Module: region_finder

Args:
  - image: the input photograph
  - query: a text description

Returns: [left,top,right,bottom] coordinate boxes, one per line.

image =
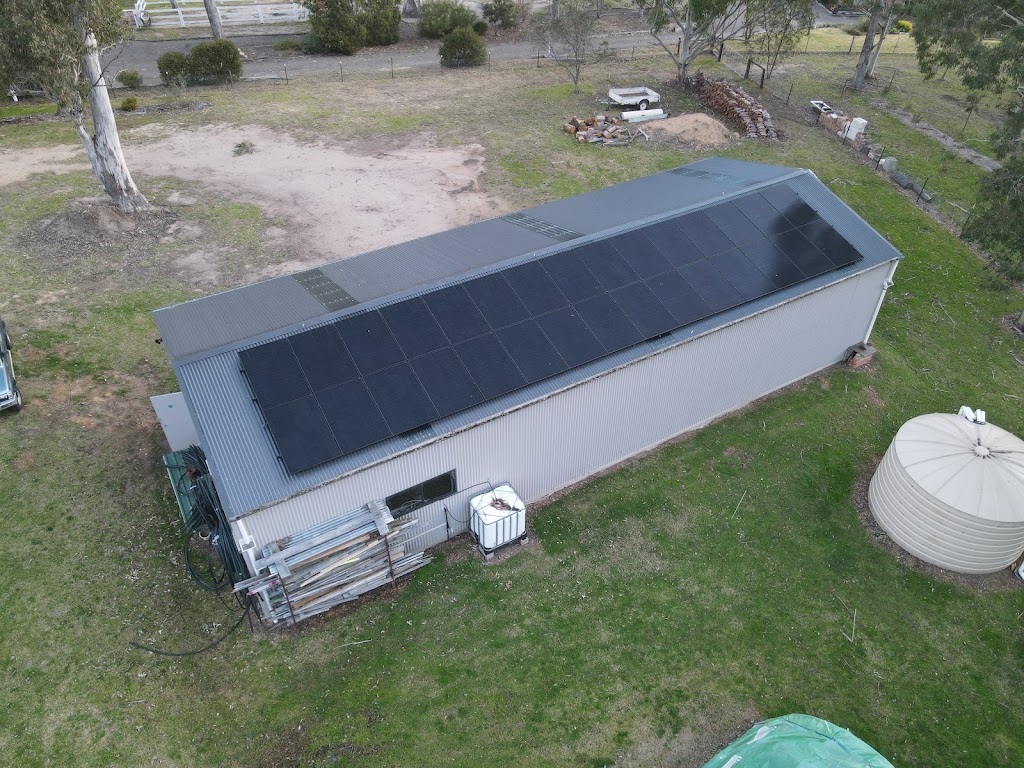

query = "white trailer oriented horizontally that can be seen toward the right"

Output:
[592,86,658,111]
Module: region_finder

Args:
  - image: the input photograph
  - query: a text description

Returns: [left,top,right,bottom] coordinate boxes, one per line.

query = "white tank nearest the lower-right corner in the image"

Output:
[871,406,1024,576]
